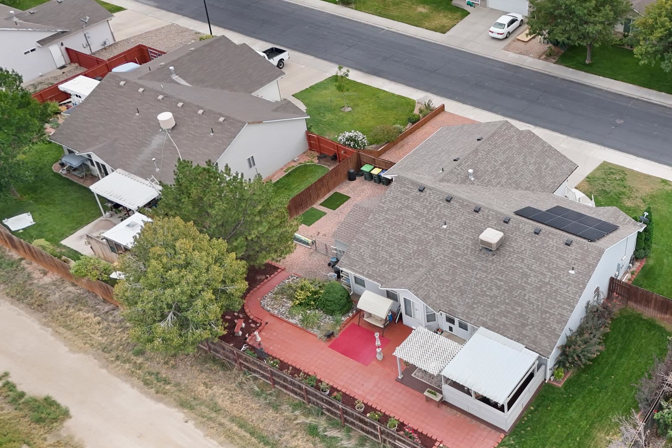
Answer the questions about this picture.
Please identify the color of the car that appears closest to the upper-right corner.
white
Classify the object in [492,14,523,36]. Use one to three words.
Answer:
car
